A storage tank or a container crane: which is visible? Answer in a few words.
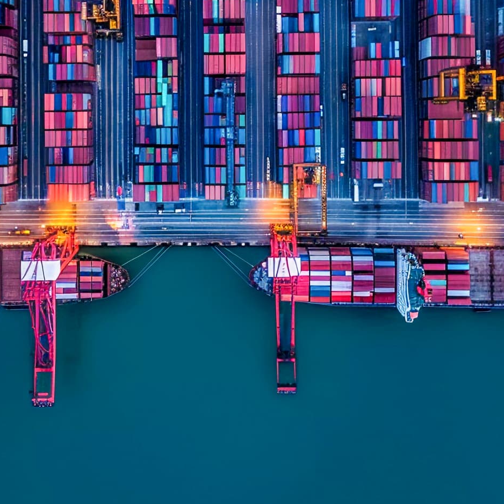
container crane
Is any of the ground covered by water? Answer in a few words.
Yes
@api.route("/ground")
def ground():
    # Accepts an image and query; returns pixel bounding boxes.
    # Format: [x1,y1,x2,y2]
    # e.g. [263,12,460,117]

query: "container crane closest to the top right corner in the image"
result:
[433,68,499,110]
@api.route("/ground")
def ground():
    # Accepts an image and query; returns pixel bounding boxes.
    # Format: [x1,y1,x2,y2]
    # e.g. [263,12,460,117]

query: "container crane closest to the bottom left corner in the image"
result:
[19,226,79,411]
